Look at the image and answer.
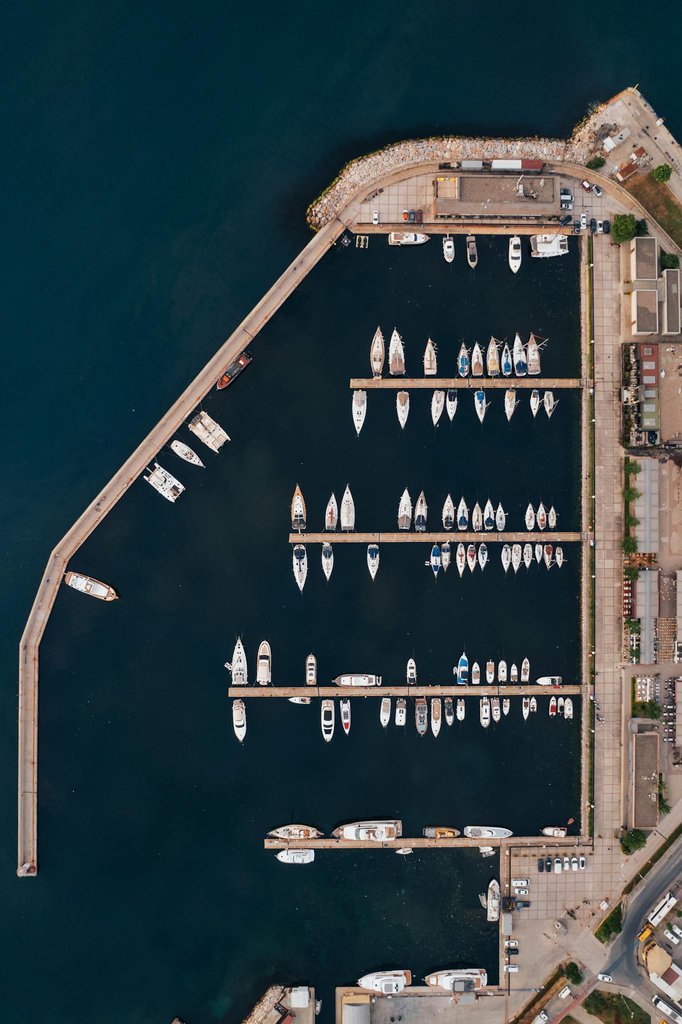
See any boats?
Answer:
Yes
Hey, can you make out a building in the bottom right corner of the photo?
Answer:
Yes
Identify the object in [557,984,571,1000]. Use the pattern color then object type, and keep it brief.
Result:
white vehicle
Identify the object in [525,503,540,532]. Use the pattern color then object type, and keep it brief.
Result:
white boat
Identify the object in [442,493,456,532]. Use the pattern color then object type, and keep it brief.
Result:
white boat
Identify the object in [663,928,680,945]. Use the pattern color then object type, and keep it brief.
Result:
white vehicle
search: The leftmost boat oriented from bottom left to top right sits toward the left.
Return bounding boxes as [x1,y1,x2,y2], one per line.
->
[217,354,250,389]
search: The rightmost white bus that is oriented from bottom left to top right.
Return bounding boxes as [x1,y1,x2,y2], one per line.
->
[647,892,678,927]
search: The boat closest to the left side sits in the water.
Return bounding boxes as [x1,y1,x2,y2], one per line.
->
[62,572,115,600]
